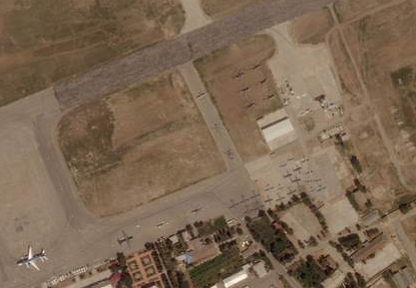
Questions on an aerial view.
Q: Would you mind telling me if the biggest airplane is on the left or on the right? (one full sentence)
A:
You can find the biggest airplane on the left side of the picture.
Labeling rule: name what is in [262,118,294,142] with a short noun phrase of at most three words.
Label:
hangar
